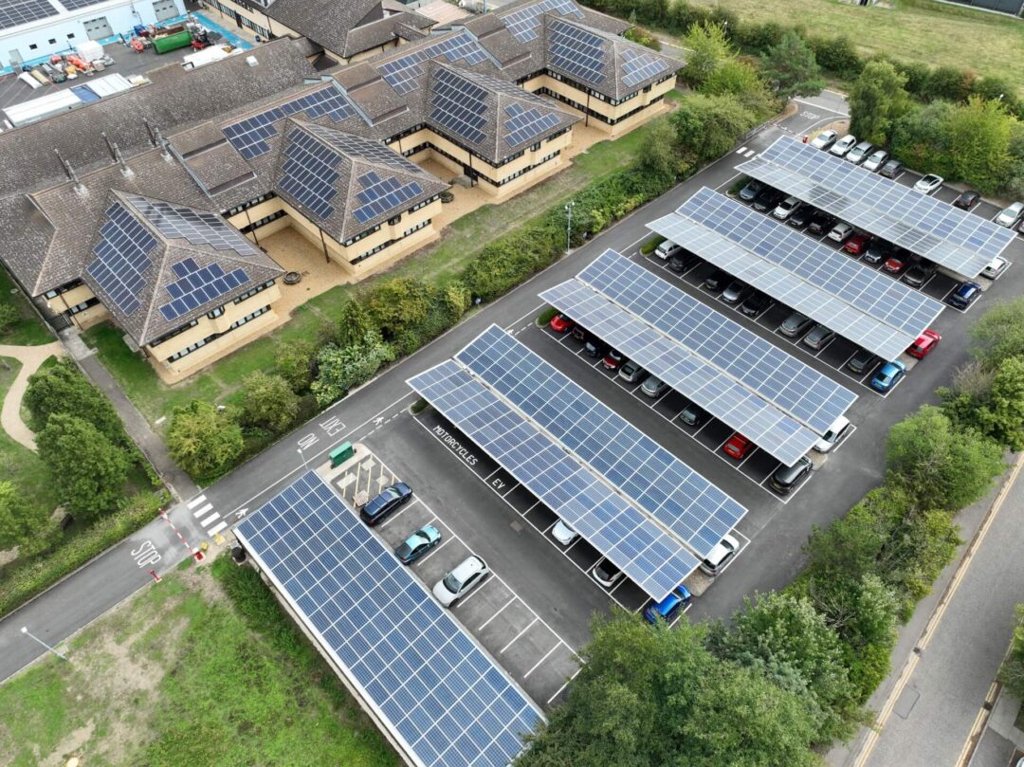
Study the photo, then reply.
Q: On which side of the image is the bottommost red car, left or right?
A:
right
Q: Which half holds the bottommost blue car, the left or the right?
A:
right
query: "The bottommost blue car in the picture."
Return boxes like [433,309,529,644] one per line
[643,584,692,631]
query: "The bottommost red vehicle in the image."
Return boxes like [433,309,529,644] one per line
[724,432,756,460]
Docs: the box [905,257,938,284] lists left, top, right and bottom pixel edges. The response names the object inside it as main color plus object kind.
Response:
black car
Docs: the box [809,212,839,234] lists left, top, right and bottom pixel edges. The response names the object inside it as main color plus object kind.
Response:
black car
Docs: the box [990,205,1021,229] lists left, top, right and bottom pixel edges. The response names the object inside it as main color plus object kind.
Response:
white car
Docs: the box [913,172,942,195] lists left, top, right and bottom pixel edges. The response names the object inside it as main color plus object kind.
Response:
white car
